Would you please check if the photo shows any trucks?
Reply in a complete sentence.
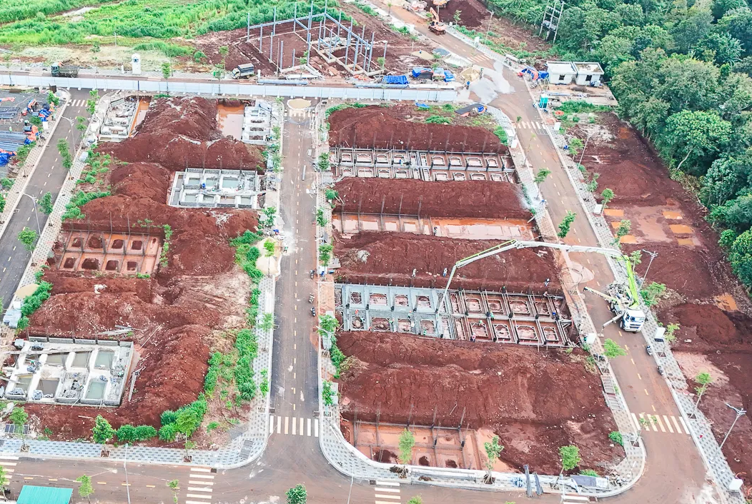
Yes, you can see a truck in this photo.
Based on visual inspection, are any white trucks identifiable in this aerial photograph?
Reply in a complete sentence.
Yes, a white truck appears in the view.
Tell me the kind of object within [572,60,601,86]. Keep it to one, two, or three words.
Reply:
shed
